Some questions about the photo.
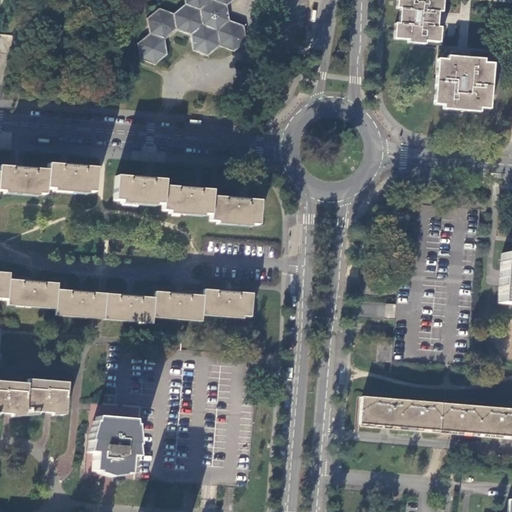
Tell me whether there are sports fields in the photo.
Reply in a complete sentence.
No, there appears to be no sports field in this shot.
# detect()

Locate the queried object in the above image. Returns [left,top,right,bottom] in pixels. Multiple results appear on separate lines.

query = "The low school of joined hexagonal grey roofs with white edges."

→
[138,0,248,64]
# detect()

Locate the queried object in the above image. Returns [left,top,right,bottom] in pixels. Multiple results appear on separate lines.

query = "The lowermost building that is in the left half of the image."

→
[84,416,146,480]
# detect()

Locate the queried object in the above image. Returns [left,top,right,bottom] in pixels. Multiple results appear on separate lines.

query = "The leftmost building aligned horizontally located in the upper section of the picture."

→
[0,162,100,201]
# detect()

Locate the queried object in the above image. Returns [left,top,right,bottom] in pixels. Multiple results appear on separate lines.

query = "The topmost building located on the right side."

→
[388,0,446,46]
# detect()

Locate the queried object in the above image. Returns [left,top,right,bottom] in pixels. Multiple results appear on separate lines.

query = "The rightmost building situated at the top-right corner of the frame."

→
[432,55,498,113]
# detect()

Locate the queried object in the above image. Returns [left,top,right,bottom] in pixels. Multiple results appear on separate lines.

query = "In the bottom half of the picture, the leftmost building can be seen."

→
[0,378,71,420]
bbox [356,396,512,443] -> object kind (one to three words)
building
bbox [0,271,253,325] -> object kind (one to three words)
building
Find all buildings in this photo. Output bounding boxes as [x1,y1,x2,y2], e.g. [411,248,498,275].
[0,34,11,100]
[432,55,498,113]
[383,304,396,318]
[0,378,71,420]
[356,396,512,443]
[138,0,248,64]
[0,162,100,201]
[113,174,266,232]
[388,0,446,46]
[496,246,512,304]
[0,271,253,325]
[84,416,146,480]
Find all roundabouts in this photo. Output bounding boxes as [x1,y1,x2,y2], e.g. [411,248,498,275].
[282,96,384,203]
